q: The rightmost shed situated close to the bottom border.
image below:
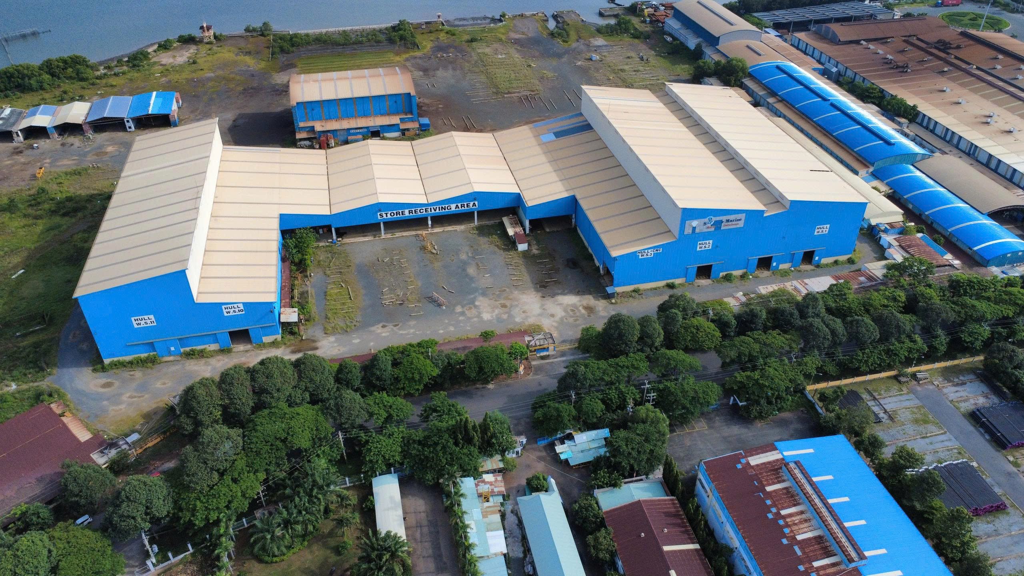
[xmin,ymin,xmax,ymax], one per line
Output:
[695,435,954,576]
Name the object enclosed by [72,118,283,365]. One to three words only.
building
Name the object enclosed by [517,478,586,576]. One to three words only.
house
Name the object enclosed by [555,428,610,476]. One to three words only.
shed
